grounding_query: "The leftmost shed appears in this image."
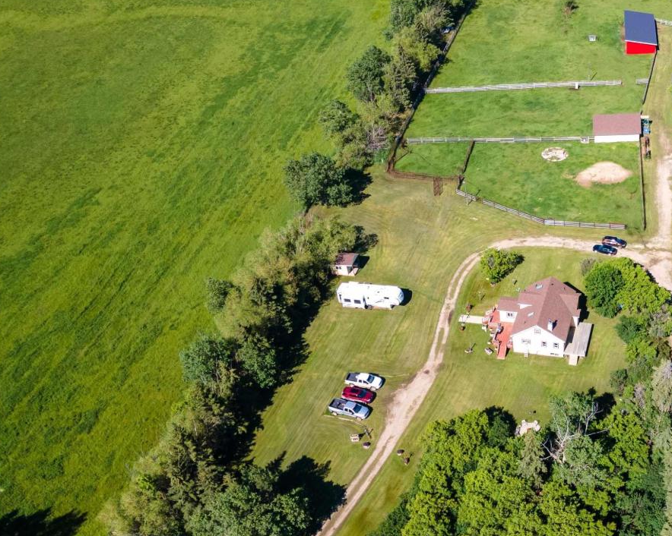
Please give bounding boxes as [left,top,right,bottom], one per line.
[331,256,363,276]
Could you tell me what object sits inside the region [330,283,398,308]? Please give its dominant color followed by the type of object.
white camper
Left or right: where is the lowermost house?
right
